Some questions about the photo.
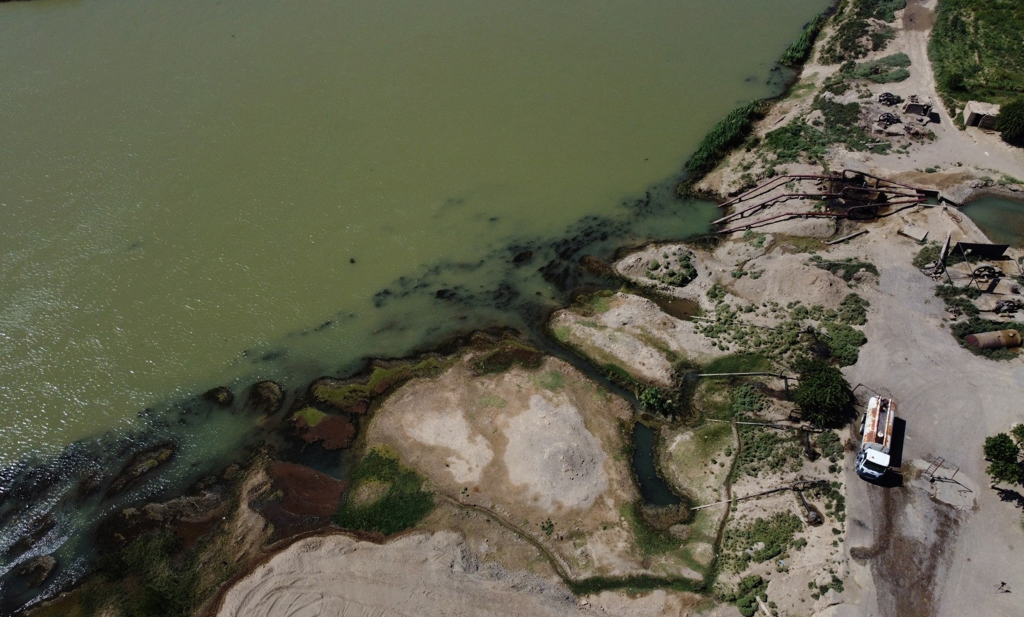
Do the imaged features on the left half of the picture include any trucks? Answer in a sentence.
No, no truck appears on the left half of the picture.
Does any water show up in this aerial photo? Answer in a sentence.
Yes, the picture does contain water.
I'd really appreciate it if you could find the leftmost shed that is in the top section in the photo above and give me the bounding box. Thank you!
[902,93,936,117]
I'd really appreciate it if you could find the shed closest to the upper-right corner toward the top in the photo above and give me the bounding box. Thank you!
[964,98,1014,131]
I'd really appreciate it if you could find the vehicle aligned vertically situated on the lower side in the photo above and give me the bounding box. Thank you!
[855,395,896,485]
